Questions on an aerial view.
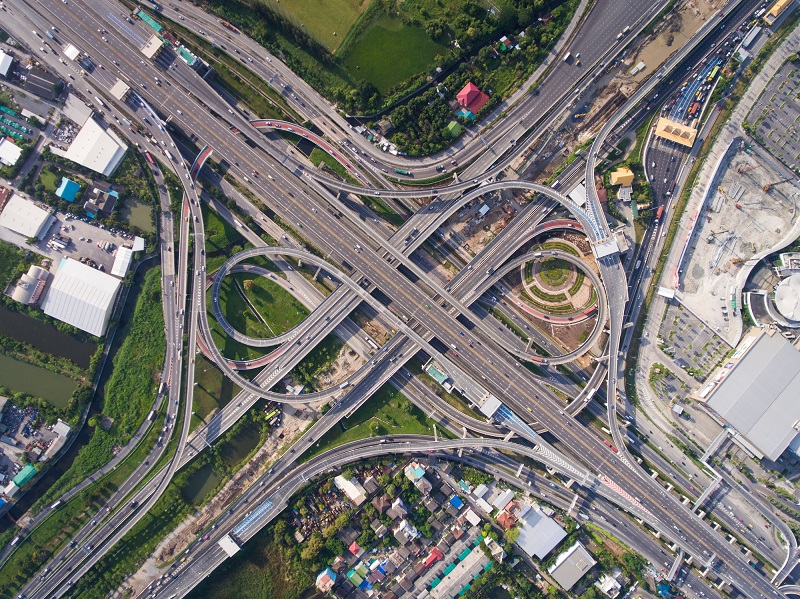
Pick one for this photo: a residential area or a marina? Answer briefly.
residential area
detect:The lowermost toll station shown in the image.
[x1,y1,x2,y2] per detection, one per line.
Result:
[218,529,245,557]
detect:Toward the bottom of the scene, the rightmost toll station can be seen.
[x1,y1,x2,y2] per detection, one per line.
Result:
[475,390,503,419]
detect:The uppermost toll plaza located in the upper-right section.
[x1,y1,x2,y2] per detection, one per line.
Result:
[649,117,698,147]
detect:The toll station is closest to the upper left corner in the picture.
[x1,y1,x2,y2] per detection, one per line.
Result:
[62,43,82,62]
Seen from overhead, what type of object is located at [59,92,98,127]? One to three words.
shed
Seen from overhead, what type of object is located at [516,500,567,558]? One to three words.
building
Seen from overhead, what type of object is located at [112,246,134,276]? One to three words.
shed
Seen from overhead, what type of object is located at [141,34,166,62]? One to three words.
toll station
